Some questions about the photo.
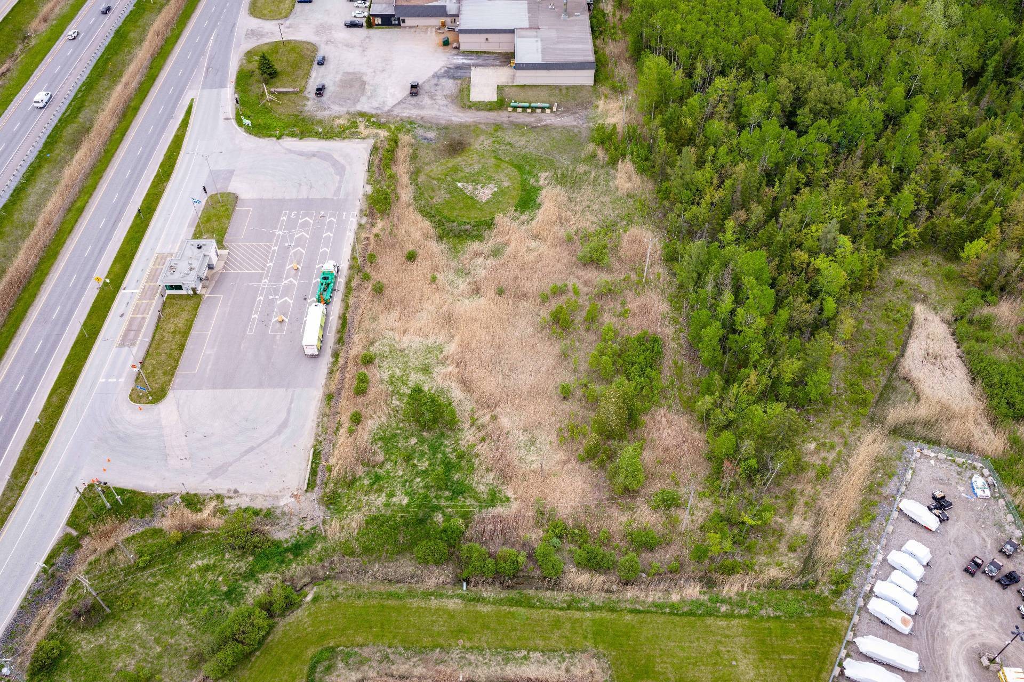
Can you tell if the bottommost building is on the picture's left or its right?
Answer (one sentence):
The bottommost building appears in the left half of the scene.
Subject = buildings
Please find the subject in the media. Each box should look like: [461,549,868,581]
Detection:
[157,238,218,296]
[369,0,401,26]
[458,0,599,85]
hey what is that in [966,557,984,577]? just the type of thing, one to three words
vehicle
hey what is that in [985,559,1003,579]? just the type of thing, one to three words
vehicle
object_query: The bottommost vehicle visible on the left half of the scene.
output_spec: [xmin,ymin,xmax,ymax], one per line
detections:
[304,305,325,356]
